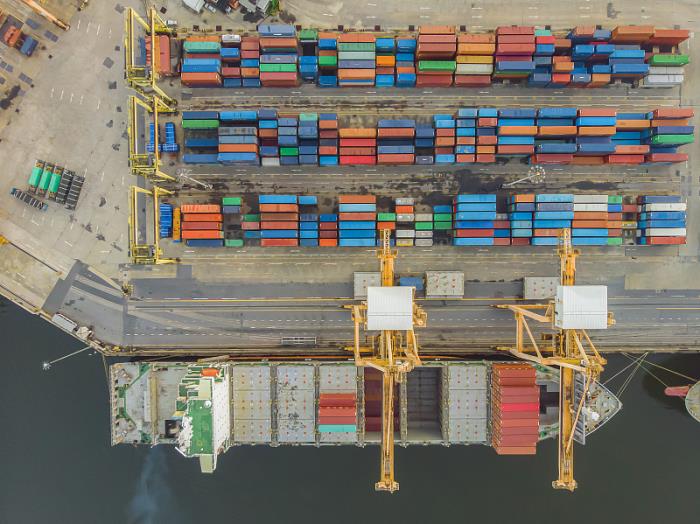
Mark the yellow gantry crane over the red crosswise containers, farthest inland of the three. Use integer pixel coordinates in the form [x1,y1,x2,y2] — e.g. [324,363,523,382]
[122,4,180,105]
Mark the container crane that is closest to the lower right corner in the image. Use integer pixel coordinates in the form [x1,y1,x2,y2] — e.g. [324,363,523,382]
[492,227,607,493]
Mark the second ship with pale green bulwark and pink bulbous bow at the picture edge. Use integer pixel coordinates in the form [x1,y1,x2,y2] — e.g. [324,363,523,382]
[663,376,700,420]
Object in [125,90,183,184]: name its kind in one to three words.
container crane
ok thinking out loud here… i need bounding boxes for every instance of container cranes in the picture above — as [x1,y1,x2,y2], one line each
[126,182,184,266]
[125,90,183,184]
[122,4,180,105]
[342,227,423,493]
[27,0,70,29]
[492,227,607,493]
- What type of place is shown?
port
